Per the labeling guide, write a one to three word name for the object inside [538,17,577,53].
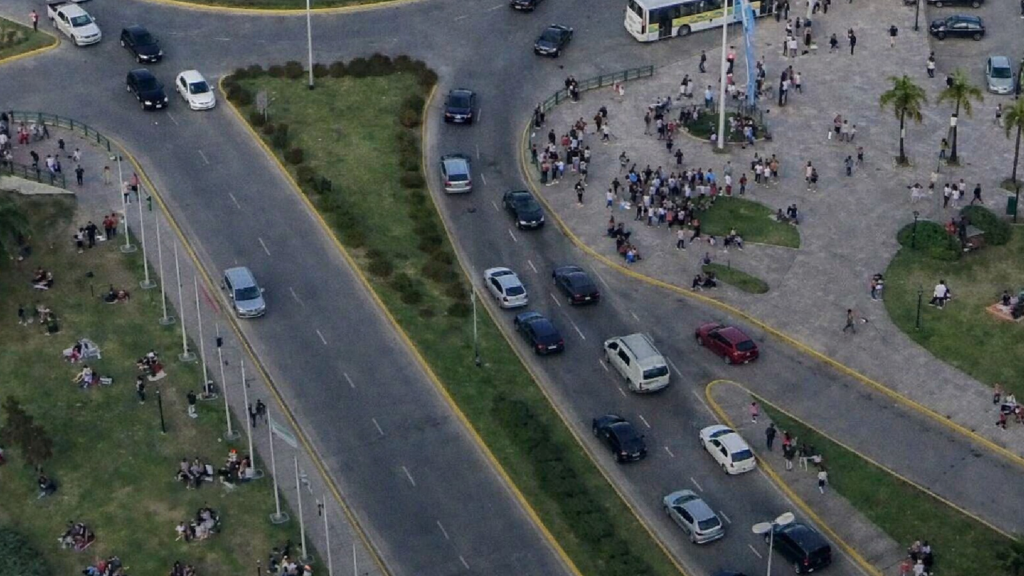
car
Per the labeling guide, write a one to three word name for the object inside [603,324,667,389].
van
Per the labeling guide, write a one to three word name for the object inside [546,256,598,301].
car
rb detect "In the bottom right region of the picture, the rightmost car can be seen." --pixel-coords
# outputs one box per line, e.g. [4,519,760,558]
[756,506,831,570]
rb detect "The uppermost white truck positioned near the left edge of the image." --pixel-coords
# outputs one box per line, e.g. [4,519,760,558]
[45,0,99,42]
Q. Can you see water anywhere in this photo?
No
